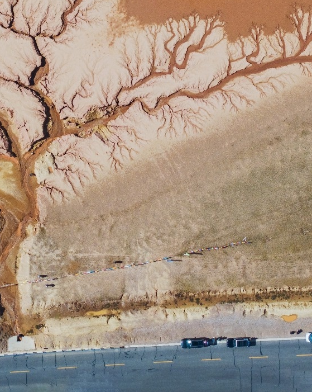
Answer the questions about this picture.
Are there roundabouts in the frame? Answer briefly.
No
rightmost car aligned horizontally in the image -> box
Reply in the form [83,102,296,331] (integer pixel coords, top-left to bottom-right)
[225,337,252,351]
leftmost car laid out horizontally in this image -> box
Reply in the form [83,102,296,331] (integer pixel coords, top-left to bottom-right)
[181,338,207,351]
